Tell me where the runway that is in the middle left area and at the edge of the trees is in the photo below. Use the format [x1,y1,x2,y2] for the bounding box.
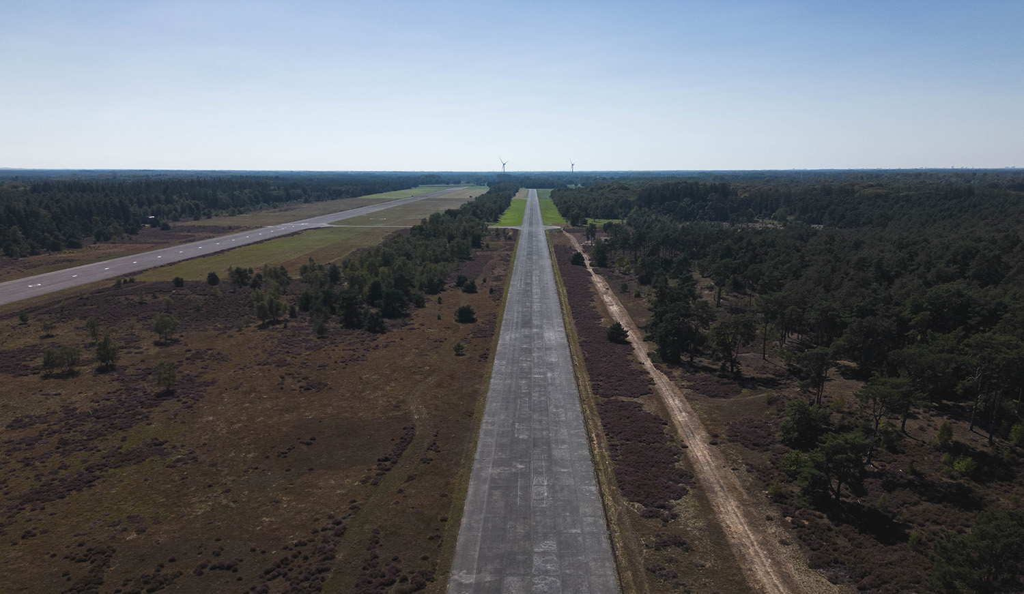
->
[0,187,465,305]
